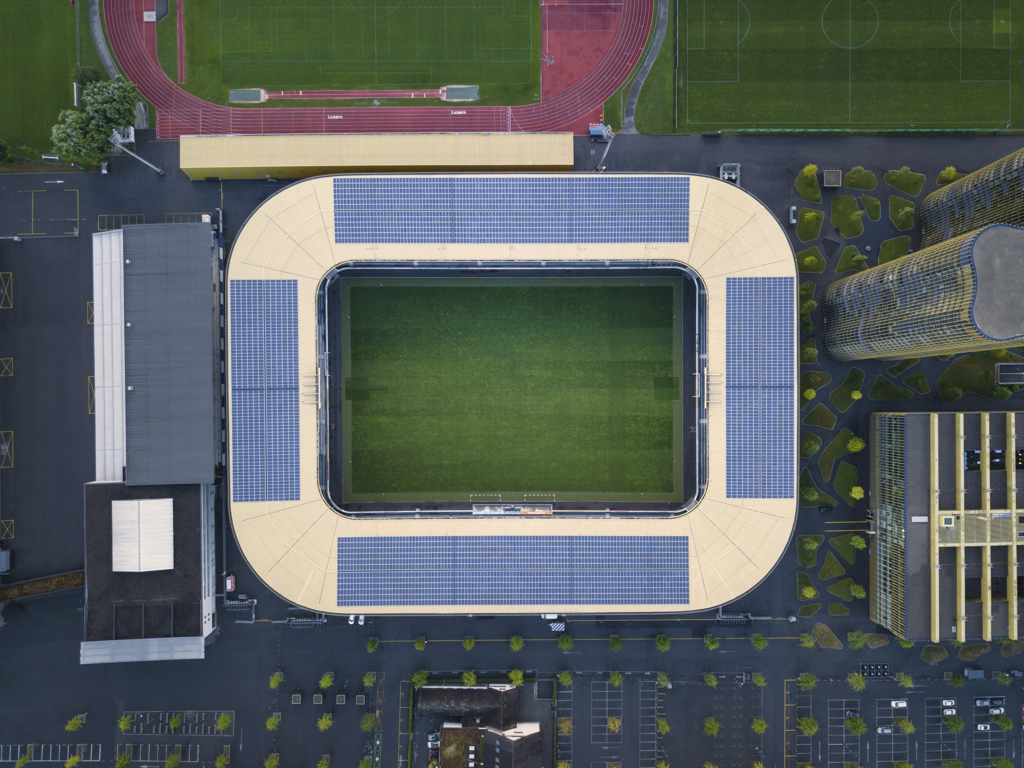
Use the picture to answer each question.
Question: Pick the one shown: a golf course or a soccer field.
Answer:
soccer field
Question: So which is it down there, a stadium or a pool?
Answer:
stadium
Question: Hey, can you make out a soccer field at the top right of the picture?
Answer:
Yes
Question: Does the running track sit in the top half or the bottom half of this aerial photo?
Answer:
top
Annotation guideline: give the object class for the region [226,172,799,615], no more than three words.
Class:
stadium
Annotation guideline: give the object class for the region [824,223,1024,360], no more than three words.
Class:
building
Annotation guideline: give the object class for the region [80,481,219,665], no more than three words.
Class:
building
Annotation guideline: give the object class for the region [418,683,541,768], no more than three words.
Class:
house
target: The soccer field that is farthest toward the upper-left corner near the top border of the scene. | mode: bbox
[0,0,77,150]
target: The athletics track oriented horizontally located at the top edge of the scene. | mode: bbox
[103,0,653,139]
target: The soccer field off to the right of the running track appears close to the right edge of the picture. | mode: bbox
[677,0,1024,132]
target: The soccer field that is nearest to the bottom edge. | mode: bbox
[341,277,683,503]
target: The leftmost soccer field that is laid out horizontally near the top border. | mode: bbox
[156,0,541,108]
